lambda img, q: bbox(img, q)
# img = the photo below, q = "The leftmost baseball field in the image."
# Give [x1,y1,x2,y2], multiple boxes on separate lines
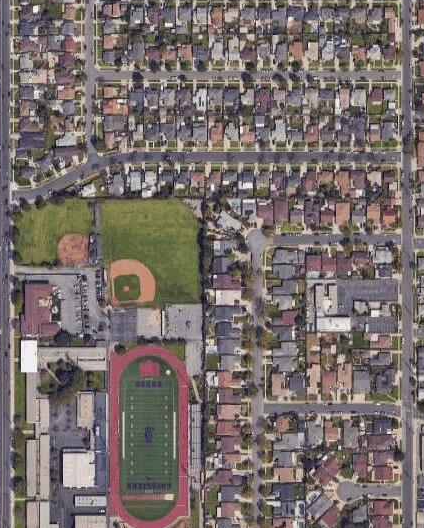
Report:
[16,199,95,265]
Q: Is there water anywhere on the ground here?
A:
No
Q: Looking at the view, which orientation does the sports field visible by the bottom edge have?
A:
vertically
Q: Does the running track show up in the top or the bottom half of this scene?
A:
bottom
